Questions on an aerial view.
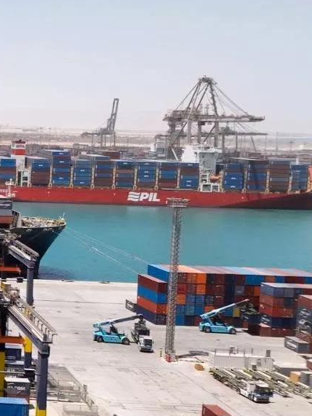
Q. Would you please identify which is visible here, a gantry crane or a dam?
gantry crane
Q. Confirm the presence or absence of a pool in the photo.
No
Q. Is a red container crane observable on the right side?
No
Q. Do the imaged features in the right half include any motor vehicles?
Yes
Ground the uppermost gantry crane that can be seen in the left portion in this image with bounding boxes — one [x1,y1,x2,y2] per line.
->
[82,103,118,153]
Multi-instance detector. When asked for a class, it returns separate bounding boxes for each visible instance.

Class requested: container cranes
[167,99,262,164]
[0,232,42,390]
[163,78,271,164]
[0,285,60,416]
[82,103,118,153]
